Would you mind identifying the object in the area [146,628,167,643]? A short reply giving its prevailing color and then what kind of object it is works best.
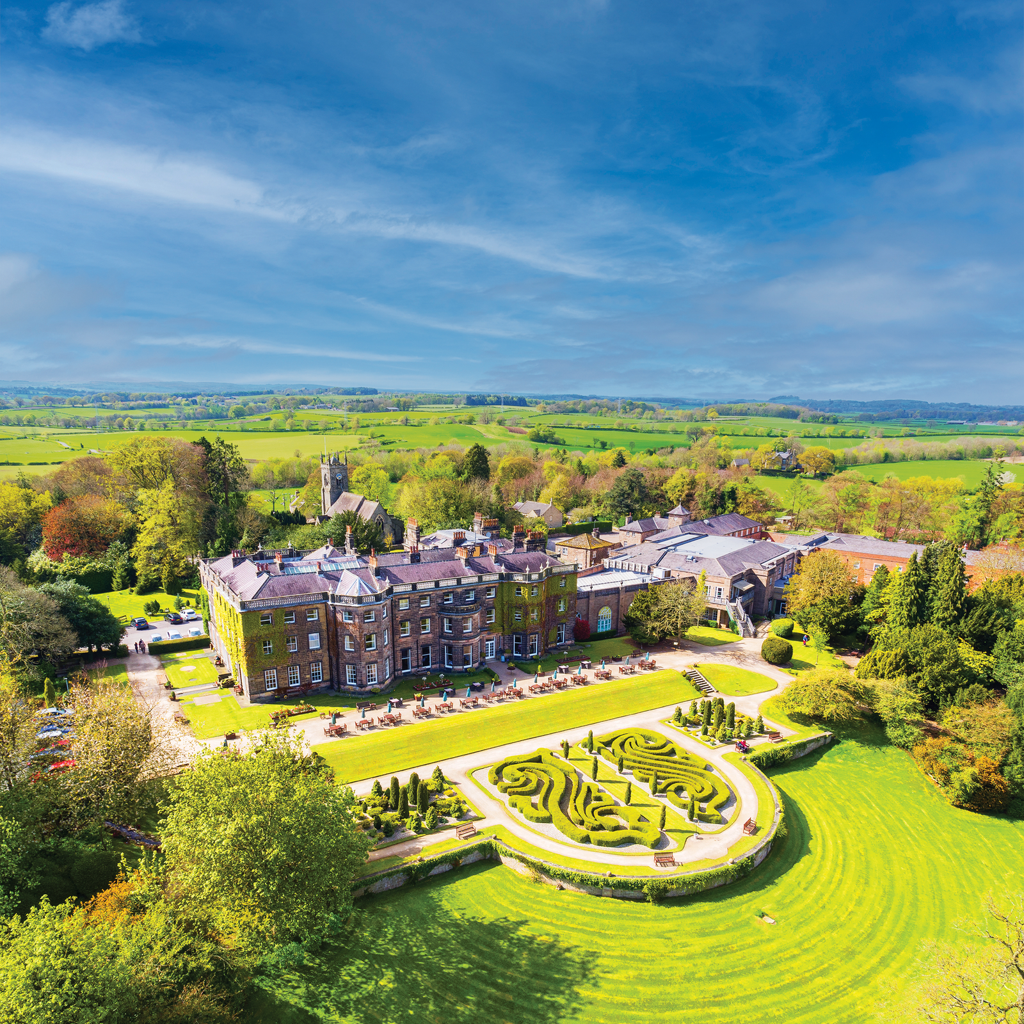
white car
